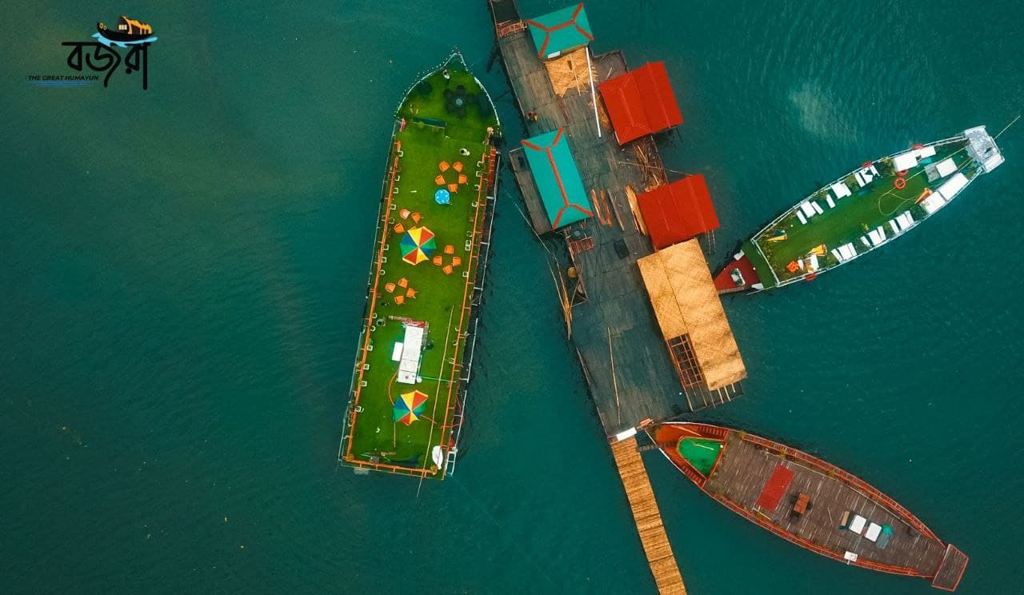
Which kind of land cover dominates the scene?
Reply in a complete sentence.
The largest share of the image is taken up by water.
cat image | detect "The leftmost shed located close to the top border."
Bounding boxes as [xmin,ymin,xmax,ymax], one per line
[525,2,595,61]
